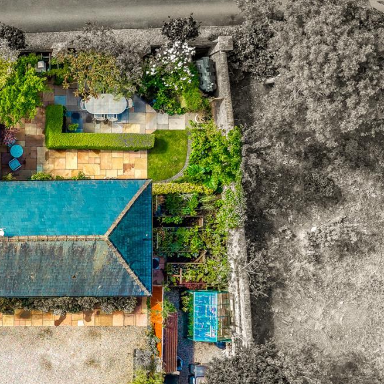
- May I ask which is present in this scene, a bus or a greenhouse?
greenhouse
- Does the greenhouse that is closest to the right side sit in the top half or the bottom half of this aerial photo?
bottom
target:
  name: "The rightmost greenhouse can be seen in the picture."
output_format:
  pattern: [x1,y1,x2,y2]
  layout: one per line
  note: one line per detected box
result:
[182,289,230,342]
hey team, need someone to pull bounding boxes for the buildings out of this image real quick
[158,311,182,374]
[182,289,230,342]
[0,178,154,297]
